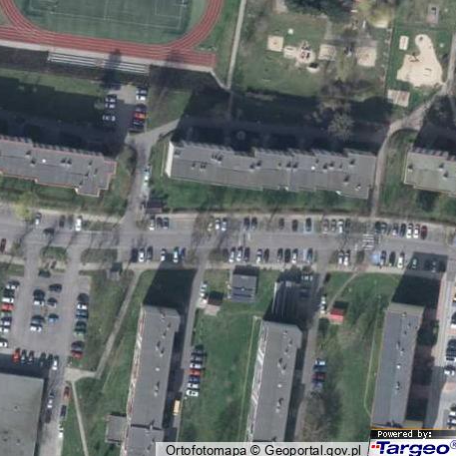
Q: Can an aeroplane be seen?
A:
No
